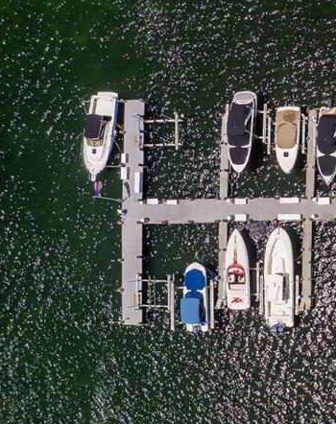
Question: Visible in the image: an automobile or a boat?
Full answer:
It is a boat that can be seen here.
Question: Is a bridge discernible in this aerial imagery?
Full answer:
No, there's no bridge here.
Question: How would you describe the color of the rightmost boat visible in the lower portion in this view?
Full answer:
In this view, the rightmost boat visible in the lower portion is white.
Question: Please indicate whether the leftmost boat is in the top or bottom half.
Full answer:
The leftmost boat is in the top half of the image.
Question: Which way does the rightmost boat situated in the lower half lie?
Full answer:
The rightmost boat situated in the lower half is oriented vertically.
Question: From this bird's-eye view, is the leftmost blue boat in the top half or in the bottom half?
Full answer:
The leftmost blue boat is in the bottom half of the image.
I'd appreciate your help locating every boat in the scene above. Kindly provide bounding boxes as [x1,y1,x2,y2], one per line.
[226,91,256,173]
[316,101,336,184]
[83,90,124,181]
[179,263,210,335]
[226,231,253,309]
[264,229,297,336]
[275,108,301,174]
